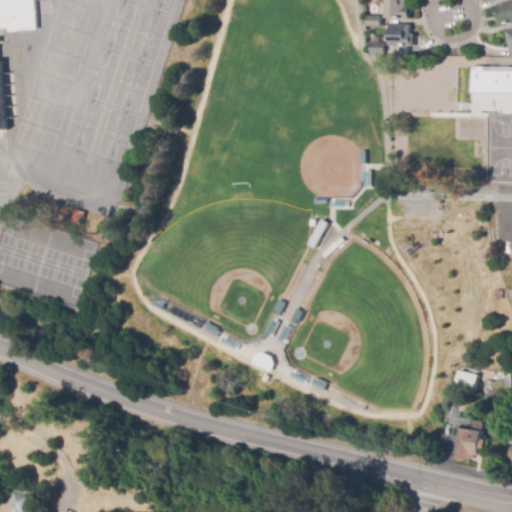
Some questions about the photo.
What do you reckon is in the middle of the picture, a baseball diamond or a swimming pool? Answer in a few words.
baseball diamond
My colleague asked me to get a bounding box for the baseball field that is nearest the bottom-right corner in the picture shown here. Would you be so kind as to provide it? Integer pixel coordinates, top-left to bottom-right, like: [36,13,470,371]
[286,236,425,412]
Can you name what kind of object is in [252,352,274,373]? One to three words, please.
building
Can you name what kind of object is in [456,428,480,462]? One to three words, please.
house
